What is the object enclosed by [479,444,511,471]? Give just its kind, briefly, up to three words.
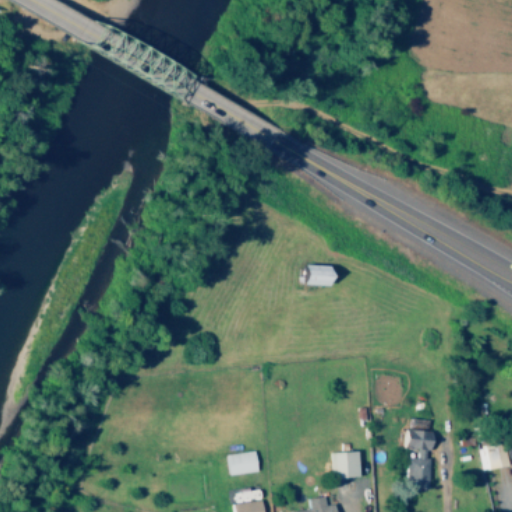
house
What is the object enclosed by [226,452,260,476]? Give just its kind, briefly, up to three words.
shed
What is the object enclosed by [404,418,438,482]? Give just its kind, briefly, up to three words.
house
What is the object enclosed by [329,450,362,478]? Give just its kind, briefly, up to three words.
building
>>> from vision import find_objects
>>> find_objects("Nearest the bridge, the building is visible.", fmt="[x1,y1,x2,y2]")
[305,264,340,288]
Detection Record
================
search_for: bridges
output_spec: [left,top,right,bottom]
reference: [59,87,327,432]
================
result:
[7,0,288,158]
